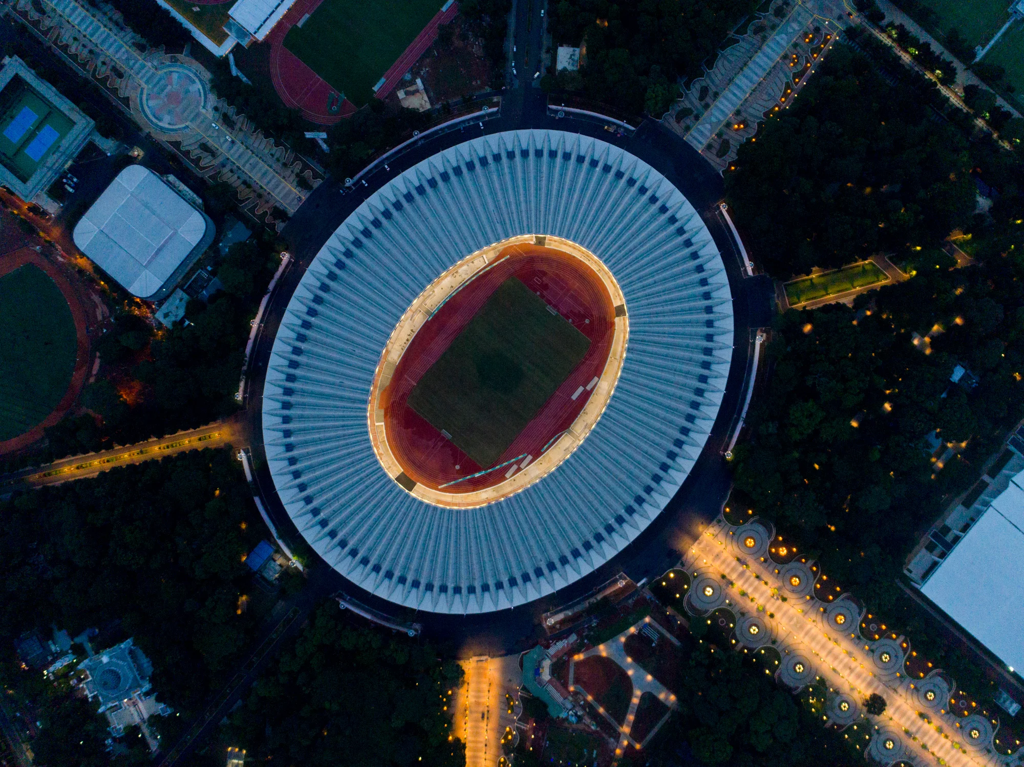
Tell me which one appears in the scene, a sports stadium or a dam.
sports stadium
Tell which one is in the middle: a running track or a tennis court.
running track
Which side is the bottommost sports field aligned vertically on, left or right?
left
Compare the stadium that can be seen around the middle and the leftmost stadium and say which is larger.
the stadium that can be seen around the middle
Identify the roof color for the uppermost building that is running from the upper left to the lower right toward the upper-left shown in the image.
blue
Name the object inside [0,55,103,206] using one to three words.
building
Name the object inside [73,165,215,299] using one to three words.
stadium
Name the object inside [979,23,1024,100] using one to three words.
sports field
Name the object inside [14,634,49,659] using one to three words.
house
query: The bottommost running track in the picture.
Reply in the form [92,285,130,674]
[381,247,617,498]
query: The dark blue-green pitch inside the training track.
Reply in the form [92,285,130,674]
[283,0,446,103]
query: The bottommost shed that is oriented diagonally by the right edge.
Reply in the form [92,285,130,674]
[991,687,1021,717]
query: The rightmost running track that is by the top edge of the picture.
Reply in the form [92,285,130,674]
[265,0,474,125]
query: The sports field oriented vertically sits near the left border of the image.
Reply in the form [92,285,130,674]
[0,248,91,453]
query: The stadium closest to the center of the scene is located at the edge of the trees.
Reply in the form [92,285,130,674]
[258,126,738,617]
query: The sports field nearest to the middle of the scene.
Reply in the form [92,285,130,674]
[407,276,591,469]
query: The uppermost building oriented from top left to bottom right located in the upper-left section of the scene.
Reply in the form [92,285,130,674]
[222,17,259,52]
